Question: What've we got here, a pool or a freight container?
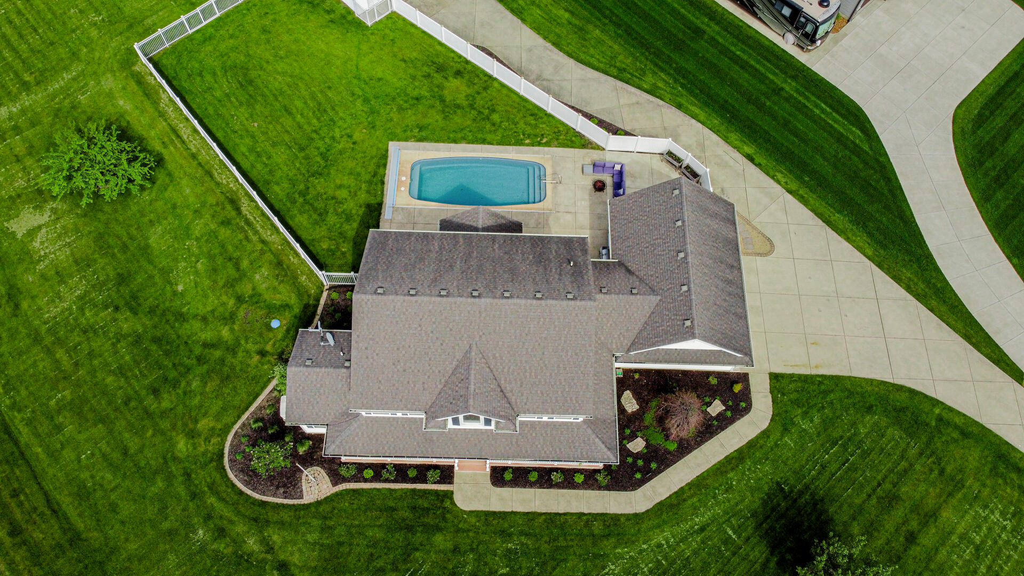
pool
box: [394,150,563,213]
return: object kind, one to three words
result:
swimming pool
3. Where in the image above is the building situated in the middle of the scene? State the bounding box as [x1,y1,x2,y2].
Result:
[280,179,755,474]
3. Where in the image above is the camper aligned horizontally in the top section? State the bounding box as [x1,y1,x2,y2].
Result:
[723,0,838,49]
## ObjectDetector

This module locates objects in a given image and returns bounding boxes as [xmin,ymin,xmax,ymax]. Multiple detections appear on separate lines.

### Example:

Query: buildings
[280,179,755,474]
[834,0,869,20]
